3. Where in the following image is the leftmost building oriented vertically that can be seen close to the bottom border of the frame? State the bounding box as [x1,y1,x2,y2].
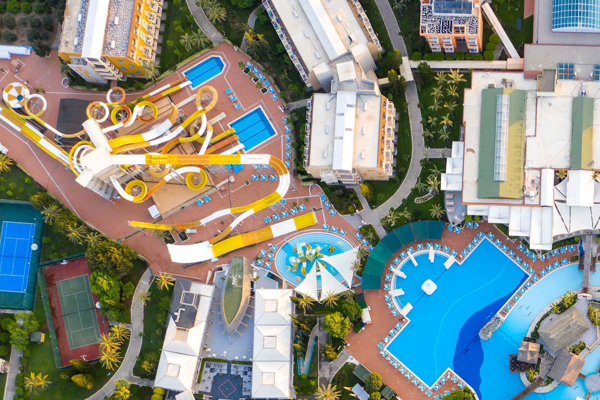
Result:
[154,279,221,390]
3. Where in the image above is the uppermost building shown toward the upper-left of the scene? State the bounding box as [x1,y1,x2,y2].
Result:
[58,0,162,88]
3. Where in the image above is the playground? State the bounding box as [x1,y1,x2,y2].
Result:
[287,242,324,276]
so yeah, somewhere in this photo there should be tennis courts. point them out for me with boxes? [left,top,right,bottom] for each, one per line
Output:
[35,254,106,367]
[0,201,43,310]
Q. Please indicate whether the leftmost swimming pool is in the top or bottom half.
top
